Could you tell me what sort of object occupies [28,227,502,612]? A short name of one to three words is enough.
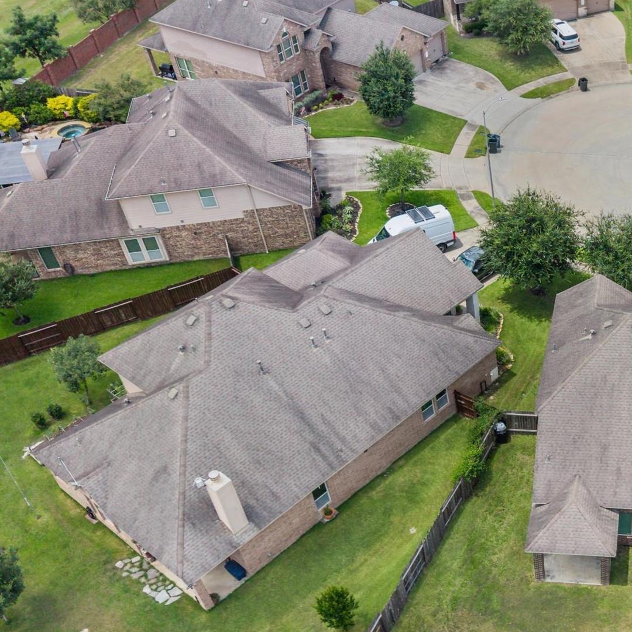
house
